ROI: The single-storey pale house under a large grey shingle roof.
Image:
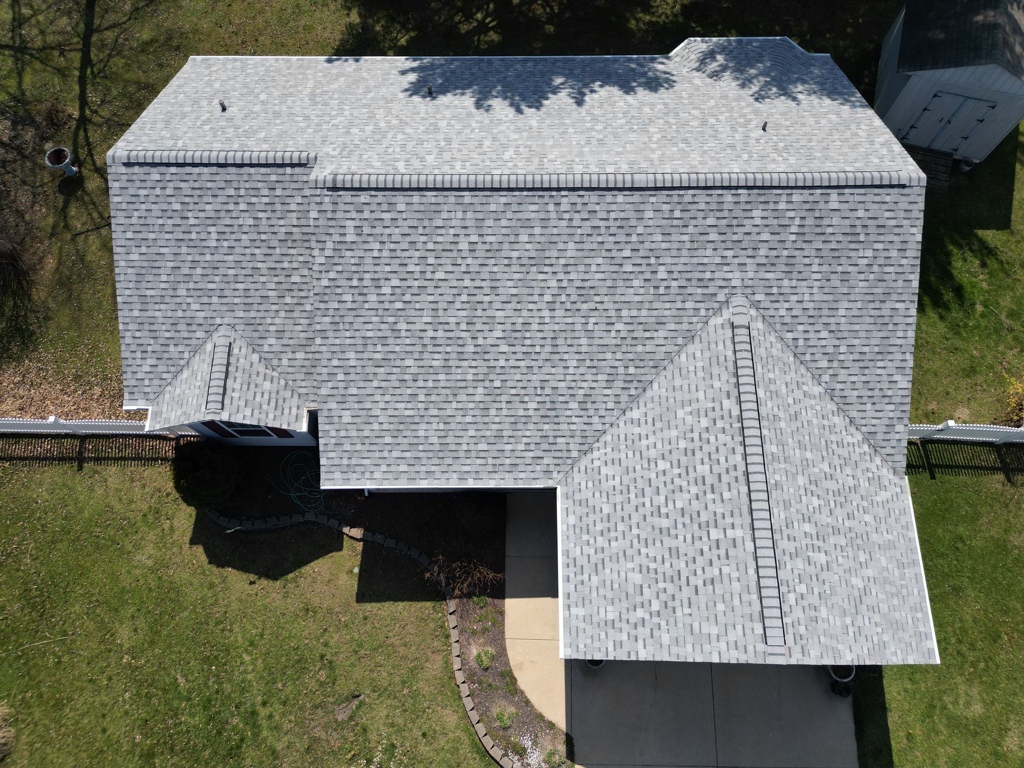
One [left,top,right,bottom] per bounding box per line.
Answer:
[107,34,940,665]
